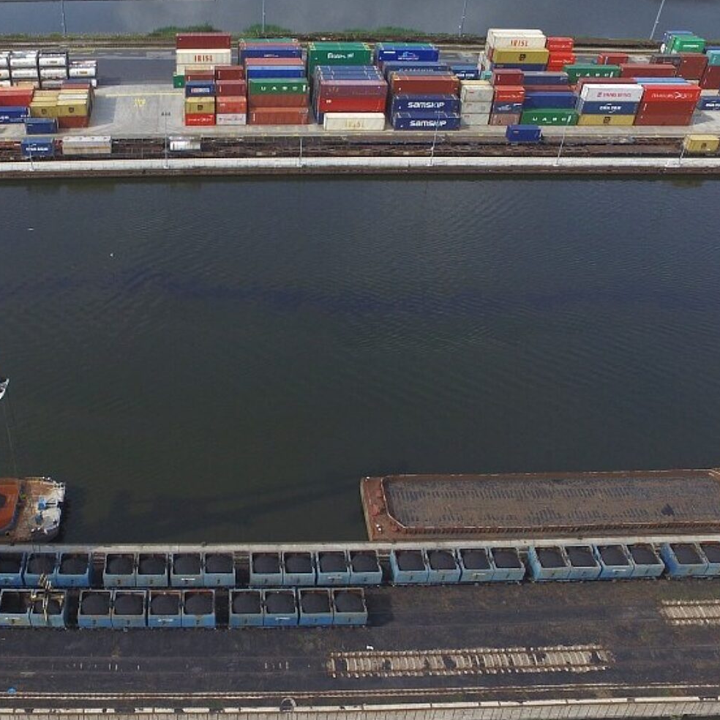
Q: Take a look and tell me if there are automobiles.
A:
No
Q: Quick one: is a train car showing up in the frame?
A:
Yes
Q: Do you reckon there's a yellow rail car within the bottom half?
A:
No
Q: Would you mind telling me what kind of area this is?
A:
port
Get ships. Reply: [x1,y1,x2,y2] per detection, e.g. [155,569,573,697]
[0,472,67,543]
[359,469,720,539]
